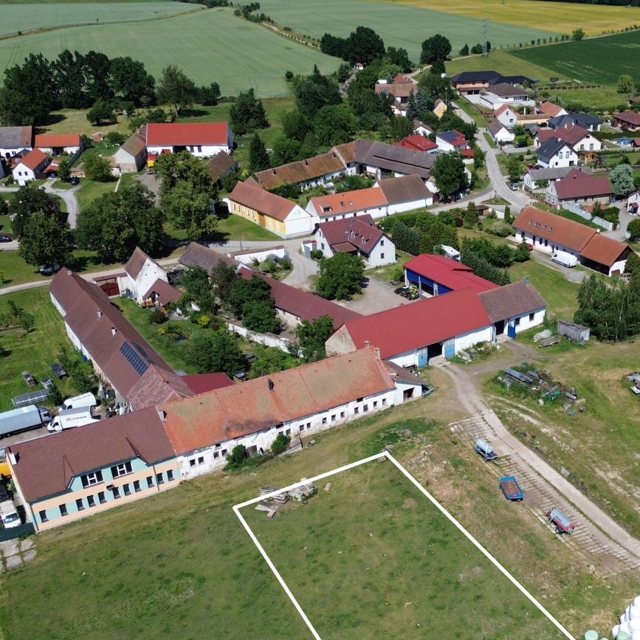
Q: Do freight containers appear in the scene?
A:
Yes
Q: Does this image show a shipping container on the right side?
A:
Yes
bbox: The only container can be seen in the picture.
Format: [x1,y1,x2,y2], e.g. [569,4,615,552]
[557,321,593,347]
